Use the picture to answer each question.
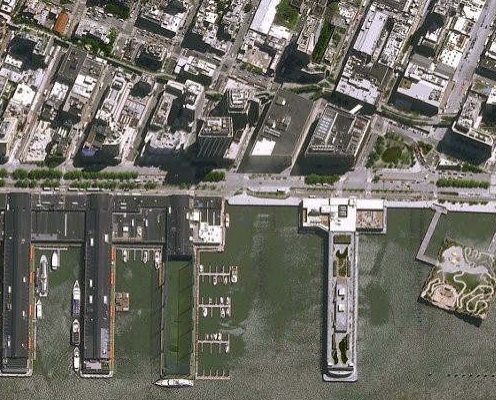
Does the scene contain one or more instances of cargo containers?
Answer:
No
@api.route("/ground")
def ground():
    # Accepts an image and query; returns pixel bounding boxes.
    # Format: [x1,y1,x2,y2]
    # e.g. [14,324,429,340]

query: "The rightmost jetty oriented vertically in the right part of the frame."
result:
[298,199,387,383]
